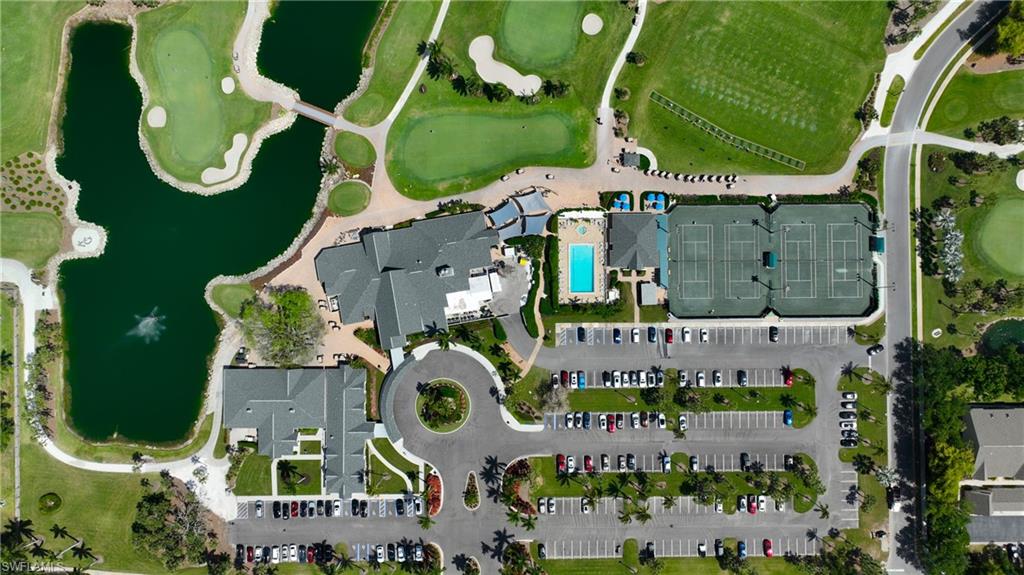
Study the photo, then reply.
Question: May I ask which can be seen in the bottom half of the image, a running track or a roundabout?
roundabout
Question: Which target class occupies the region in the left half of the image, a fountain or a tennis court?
fountain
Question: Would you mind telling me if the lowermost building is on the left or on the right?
right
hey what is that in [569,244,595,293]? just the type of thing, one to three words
swimming pool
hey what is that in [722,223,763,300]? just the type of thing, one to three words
tennis court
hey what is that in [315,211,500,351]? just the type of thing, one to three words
building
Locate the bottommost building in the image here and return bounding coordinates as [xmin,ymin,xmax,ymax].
[959,486,1024,515]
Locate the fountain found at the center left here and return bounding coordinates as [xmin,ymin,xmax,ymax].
[131,310,164,338]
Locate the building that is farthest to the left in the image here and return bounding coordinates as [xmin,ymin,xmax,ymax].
[224,366,375,499]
